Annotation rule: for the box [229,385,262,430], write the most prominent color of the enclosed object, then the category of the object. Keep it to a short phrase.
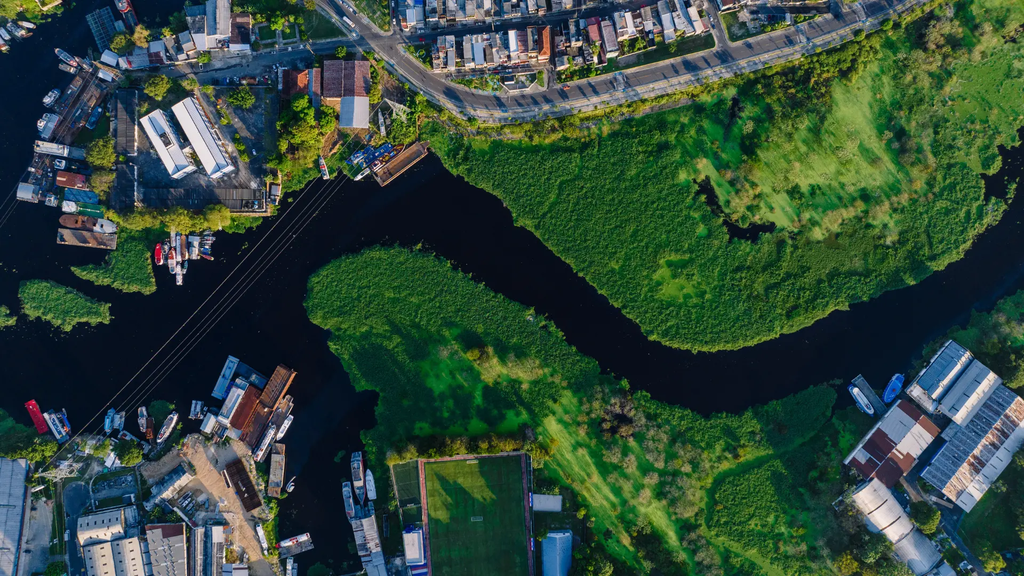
red ship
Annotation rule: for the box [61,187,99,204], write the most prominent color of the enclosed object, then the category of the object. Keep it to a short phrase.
blue ship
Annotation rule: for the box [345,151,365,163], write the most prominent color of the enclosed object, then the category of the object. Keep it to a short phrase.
blue boat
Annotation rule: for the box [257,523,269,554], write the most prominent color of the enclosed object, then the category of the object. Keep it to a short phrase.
white boat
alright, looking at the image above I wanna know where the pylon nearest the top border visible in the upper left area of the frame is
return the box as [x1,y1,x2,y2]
[86,56,127,82]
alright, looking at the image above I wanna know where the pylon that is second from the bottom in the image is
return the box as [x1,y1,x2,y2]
[385,92,407,118]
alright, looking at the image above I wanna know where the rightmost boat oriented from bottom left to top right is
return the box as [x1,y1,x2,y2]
[884,373,903,402]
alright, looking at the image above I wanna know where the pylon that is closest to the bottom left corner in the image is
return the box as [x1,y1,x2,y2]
[34,457,83,486]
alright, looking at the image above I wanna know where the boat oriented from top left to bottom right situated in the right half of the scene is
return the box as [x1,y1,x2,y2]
[848,384,874,419]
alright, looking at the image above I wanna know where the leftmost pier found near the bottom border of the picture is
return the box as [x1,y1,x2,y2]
[279,538,314,559]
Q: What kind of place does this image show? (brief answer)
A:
residential area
